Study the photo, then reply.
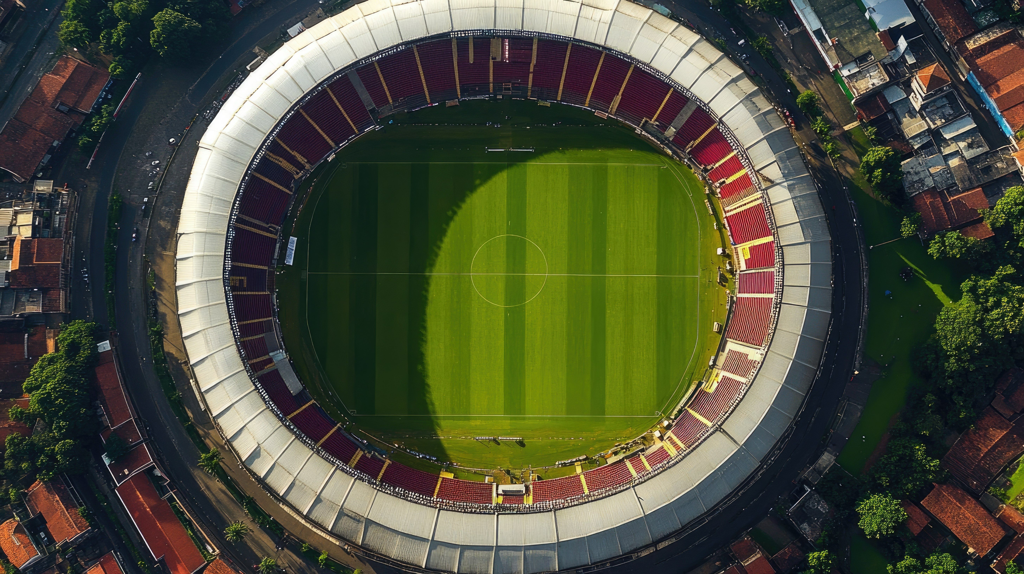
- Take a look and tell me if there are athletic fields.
Yes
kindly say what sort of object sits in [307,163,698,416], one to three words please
sports field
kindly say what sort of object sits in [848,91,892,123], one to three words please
house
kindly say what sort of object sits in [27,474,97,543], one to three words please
house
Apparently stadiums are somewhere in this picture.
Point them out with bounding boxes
[173,0,835,574]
